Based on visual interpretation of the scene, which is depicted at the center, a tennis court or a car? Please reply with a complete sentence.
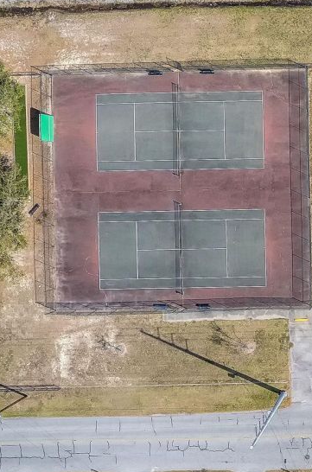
What appears at the center is a tennis court.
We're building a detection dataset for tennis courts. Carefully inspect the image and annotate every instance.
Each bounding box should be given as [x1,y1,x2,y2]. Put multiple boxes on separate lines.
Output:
[54,189,312,311]
[53,68,311,192]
